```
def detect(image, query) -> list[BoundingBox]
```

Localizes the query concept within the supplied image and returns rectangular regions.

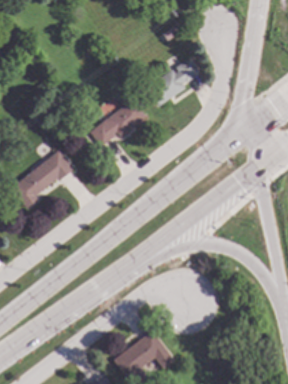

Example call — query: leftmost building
[18,150,73,208]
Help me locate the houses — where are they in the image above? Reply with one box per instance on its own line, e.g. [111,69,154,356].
[90,98,146,146]
[18,150,73,208]
[115,330,174,378]
[152,58,200,108]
